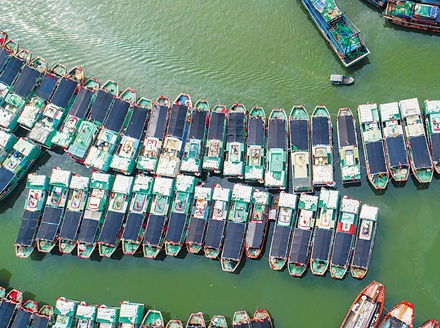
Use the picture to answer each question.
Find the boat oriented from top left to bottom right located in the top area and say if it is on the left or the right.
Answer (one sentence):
It is on the right.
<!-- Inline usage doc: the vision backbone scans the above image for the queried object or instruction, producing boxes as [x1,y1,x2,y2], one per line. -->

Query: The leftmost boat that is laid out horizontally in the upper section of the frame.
[328,71,355,86]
